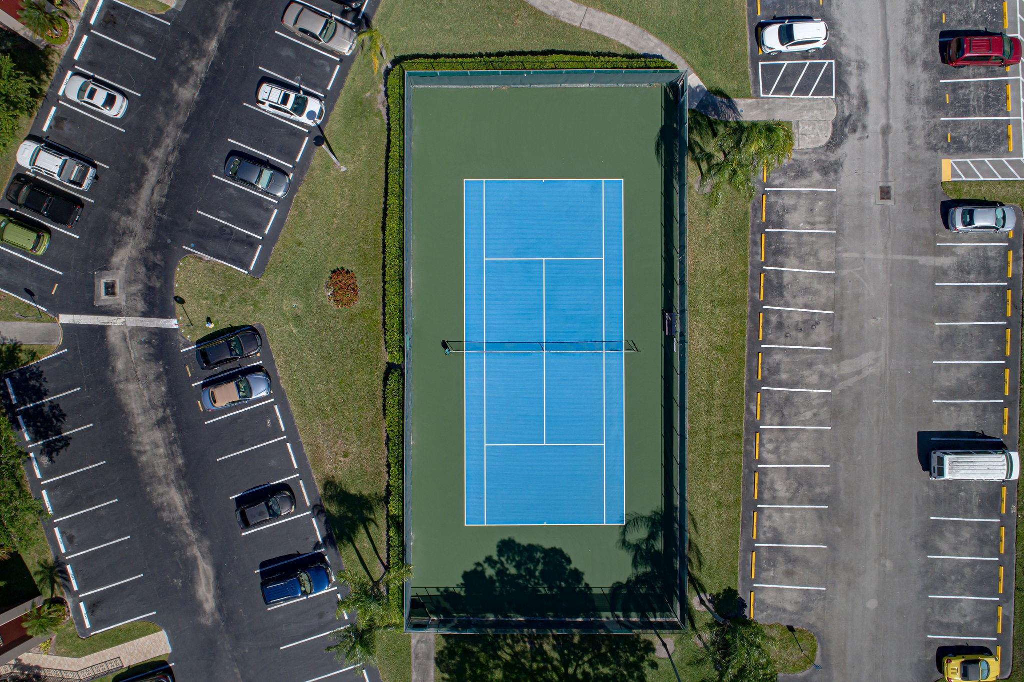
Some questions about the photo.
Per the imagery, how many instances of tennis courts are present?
1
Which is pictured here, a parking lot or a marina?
parking lot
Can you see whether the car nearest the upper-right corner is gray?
No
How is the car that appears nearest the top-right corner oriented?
from side to side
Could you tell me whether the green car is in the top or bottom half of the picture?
top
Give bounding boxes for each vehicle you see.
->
[760,20,828,56]
[948,203,1016,234]
[942,652,1000,682]
[948,33,1022,68]
[0,214,50,255]
[224,154,292,197]
[64,76,131,120]
[282,1,358,56]
[202,372,272,411]
[260,562,333,605]
[931,449,1020,482]
[6,177,85,228]
[235,491,295,529]
[17,140,97,191]
[195,329,264,369]
[256,81,326,129]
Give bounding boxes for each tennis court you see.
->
[411,83,680,622]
